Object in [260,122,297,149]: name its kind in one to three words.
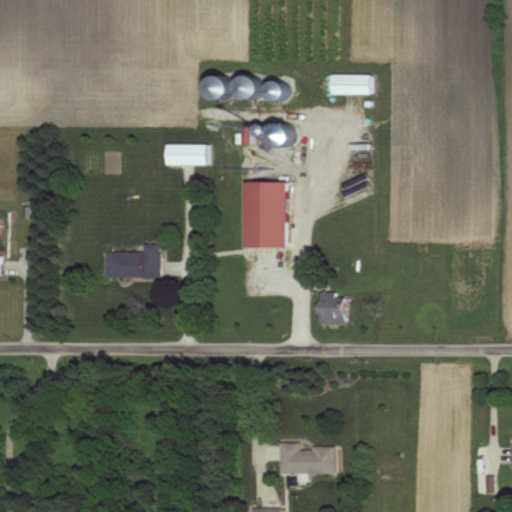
silo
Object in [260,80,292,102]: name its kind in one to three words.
silo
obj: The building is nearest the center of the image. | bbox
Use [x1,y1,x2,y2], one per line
[243,181,288,248]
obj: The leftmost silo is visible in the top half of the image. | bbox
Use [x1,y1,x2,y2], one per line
[198,75,232,102]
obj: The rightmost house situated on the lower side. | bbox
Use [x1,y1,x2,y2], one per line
[316,292,350,324]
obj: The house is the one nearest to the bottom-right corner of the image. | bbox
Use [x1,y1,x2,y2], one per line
[280,444,338,474]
